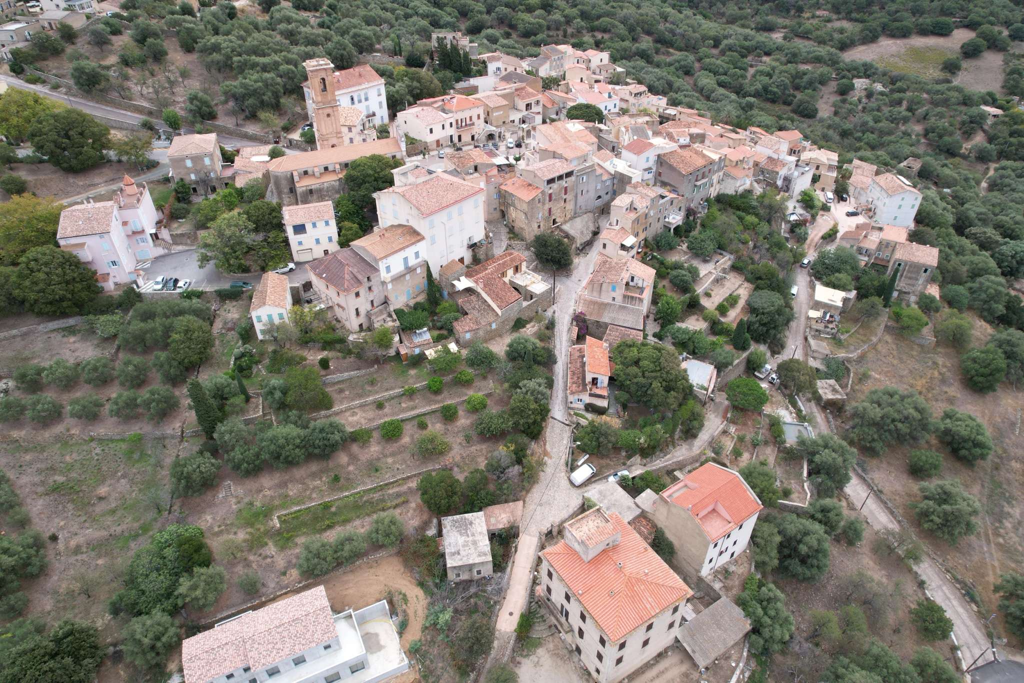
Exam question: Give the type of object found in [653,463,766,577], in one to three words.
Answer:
house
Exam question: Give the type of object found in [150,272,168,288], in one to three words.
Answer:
car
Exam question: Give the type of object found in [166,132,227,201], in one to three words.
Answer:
house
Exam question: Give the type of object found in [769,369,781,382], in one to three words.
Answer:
vehicle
